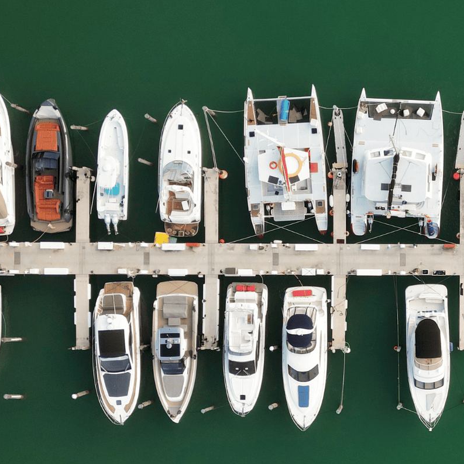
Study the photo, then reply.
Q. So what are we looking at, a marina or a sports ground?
marina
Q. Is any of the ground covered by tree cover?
No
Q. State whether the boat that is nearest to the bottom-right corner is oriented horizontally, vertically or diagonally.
vertically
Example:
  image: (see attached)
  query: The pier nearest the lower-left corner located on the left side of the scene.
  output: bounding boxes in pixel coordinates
[72,274,94,350]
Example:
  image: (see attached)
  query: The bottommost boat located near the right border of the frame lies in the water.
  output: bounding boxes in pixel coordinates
[407,284,453,429]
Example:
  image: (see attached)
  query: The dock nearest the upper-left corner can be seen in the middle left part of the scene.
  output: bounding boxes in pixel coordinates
[73,167,94,242]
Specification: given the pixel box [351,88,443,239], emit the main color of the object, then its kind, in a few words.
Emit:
white boat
